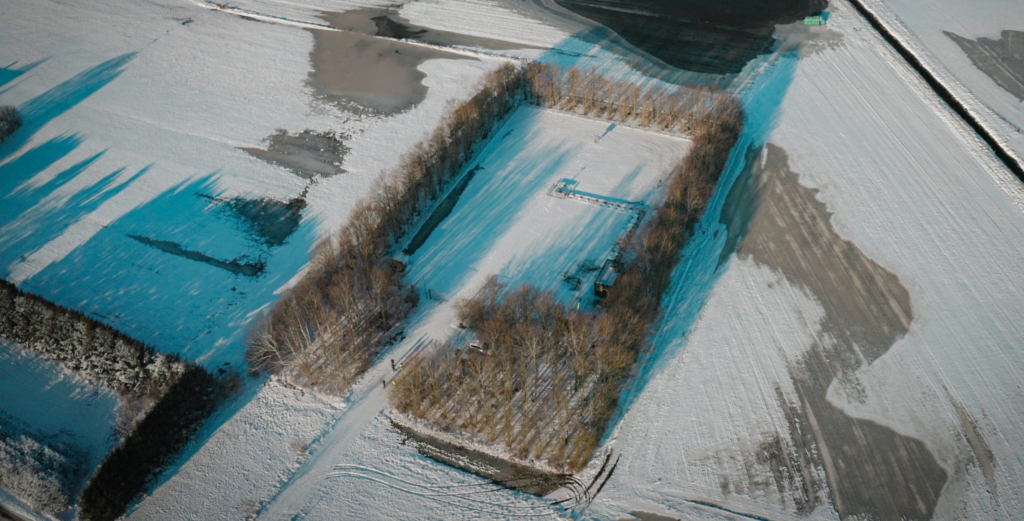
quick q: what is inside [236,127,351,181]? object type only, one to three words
pond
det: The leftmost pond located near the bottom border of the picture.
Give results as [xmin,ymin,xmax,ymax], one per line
[393,422,571,496]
